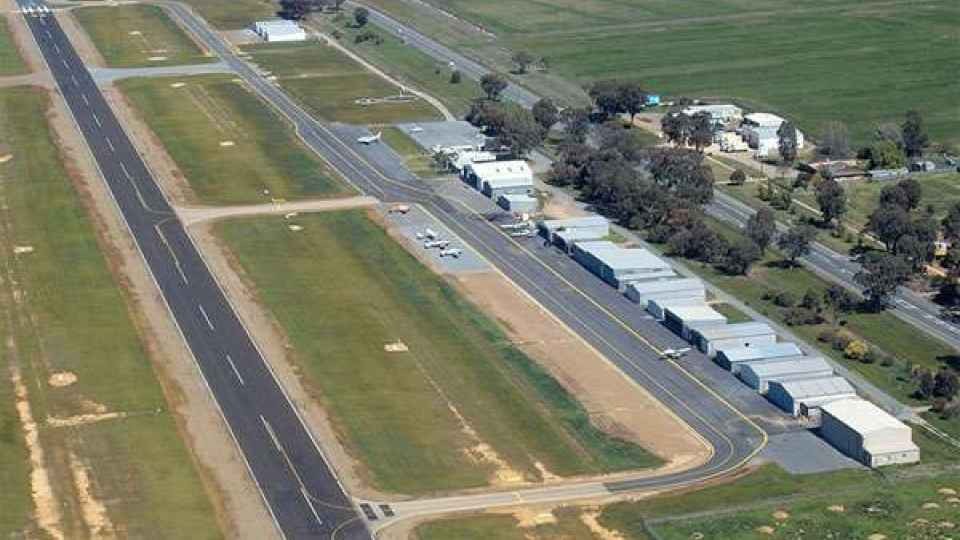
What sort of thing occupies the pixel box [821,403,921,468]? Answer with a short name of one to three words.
hangar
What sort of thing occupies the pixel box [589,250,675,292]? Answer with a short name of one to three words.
hangar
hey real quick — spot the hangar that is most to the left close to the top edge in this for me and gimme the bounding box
[250,17,310,45]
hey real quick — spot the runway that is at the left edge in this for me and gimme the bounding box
[8,16,373,540]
